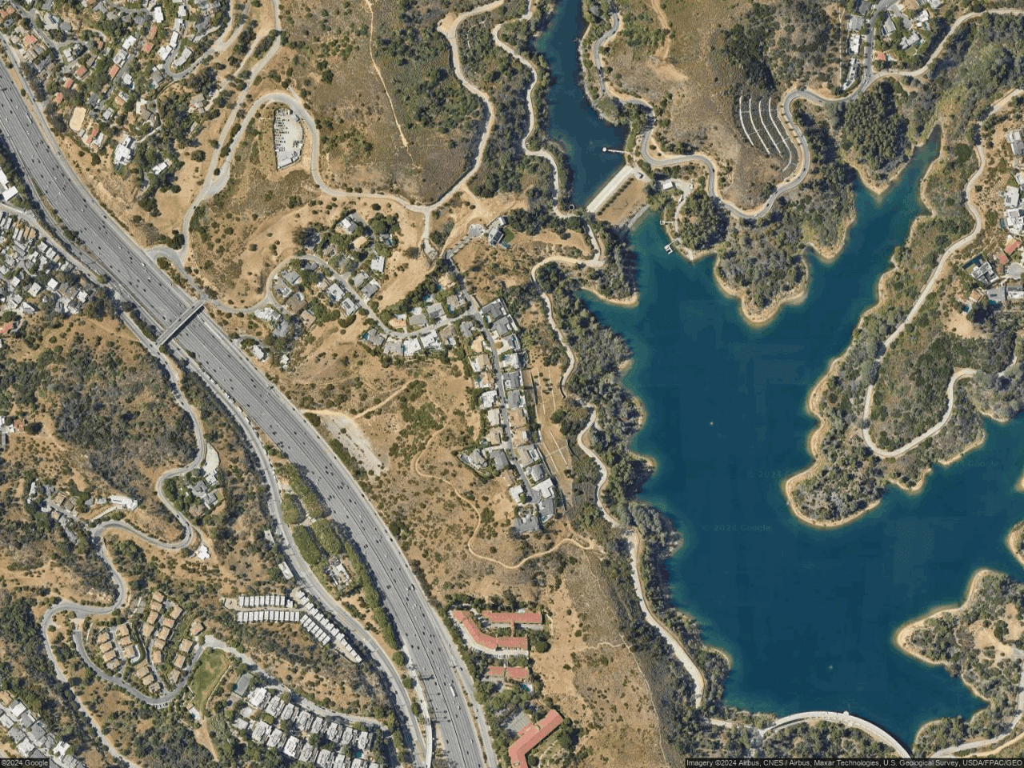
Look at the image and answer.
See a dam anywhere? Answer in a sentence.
Yes, this view includes a dam.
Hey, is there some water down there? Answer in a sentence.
Yes, there is water in the image.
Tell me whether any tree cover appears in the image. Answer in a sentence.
Yes, there is tree cover in the image.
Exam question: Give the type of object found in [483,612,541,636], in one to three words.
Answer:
building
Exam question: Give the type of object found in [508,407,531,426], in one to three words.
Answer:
house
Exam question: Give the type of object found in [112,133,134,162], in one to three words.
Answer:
house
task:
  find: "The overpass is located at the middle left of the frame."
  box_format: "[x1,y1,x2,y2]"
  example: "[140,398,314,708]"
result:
[154,294,208,348]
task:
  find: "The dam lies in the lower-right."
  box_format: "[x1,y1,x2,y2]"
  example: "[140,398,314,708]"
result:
[770,711,915,768]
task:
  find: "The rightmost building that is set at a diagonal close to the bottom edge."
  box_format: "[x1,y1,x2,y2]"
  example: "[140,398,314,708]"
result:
[509,710,563,768]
